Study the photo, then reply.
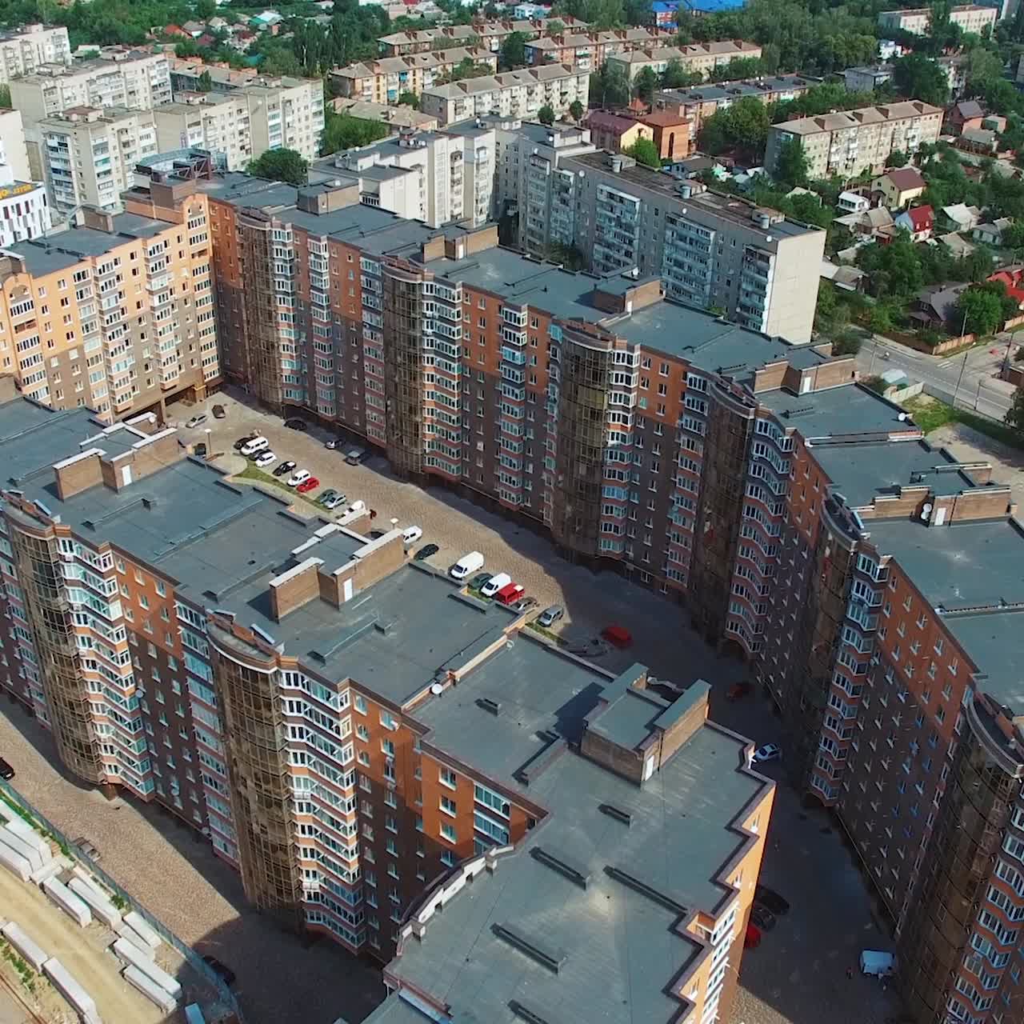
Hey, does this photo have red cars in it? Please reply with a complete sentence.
Yes, the photo shows a red car.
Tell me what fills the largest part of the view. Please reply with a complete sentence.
The largest share of the image is taken up by buildings.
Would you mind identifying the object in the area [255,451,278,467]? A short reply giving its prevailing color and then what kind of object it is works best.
white car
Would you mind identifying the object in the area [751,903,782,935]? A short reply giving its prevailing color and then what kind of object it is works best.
black car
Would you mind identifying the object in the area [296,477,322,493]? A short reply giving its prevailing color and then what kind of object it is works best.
red car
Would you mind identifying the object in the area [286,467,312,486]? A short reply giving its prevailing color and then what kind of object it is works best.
white car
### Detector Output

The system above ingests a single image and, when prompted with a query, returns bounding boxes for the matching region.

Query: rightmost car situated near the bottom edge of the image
[848,942,907,976]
